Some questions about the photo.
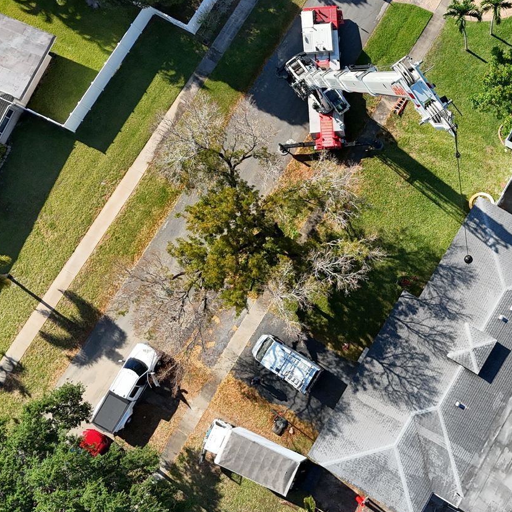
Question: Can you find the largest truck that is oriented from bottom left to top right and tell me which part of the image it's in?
bottom left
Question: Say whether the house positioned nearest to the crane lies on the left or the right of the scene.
right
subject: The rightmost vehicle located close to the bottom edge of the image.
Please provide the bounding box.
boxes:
[197,414,308,497]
